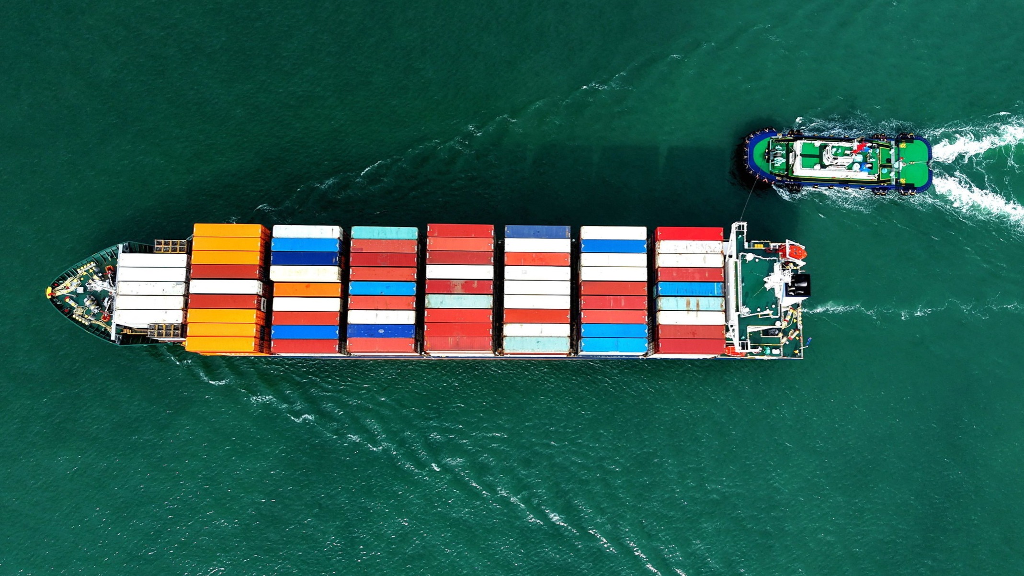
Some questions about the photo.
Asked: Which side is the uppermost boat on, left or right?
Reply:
right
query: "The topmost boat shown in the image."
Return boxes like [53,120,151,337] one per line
[739,126,933,195]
